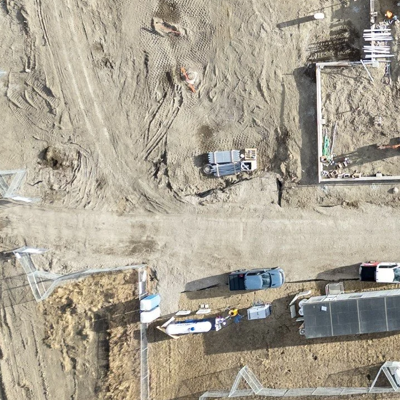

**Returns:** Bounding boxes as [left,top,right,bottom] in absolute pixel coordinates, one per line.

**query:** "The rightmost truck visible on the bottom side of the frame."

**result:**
[361,261,400,286]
